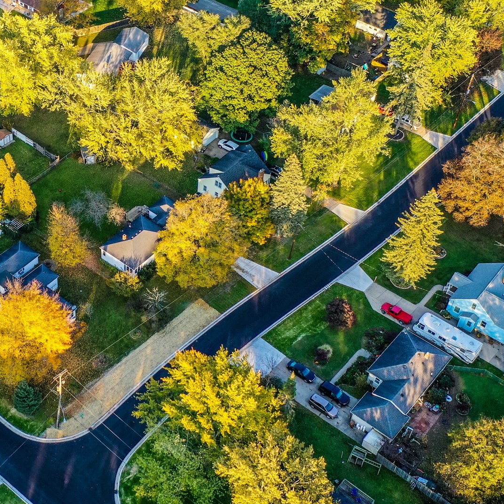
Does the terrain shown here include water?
No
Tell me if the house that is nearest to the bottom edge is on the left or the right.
right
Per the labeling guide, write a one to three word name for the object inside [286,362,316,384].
car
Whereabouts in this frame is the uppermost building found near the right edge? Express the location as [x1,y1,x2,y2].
[445,262,504,344]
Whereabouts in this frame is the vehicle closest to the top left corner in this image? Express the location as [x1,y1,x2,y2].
[217,141,240,153]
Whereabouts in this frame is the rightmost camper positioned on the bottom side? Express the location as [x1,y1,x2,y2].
[416,316,484,362]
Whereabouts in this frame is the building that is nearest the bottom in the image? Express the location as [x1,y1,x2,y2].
[349,337,473,443]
